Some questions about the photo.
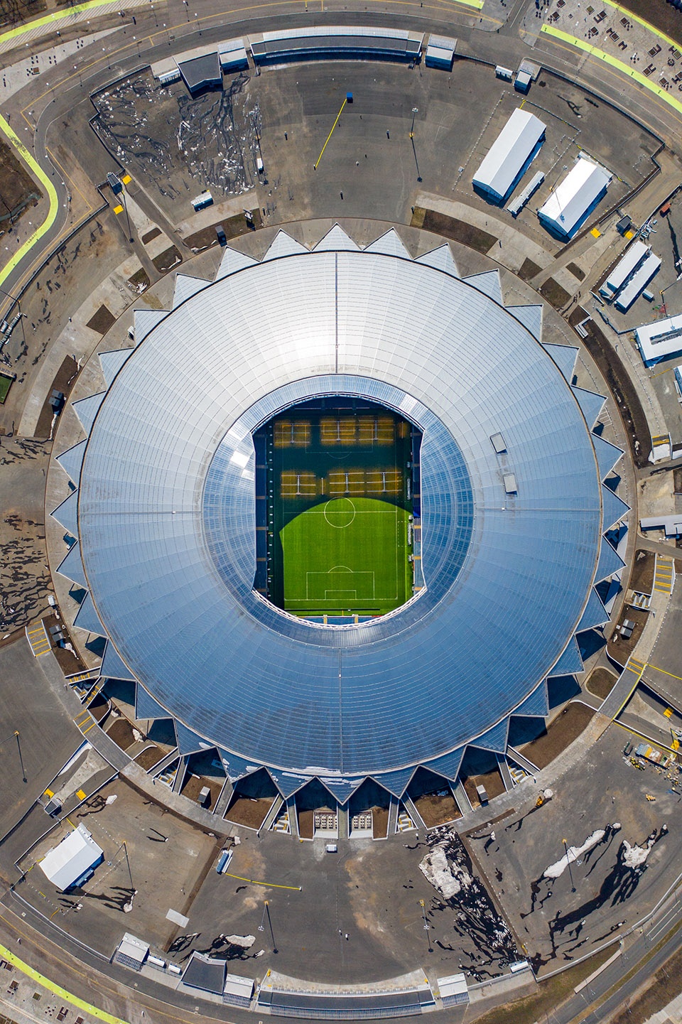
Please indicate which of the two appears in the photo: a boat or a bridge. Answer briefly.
bridge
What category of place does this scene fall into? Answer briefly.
sports ground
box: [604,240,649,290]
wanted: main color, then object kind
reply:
white tent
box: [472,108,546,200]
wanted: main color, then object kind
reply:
white tent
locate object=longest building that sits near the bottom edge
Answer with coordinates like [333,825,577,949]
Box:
[257,982,435,1019]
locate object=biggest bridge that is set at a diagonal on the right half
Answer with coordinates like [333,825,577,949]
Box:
[598,657,647,720]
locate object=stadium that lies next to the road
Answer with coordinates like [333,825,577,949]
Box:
[48,220,632,804]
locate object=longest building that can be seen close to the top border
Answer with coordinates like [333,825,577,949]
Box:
[250,25,421,62]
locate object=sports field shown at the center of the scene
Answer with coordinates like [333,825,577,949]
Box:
[272,410,411,615]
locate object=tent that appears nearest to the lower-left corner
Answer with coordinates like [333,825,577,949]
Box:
[39,820,106,890]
